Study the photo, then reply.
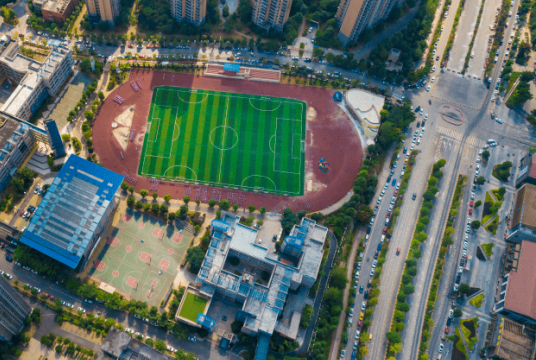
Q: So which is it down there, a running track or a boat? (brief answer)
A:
running track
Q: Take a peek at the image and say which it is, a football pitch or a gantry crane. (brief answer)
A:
football pitch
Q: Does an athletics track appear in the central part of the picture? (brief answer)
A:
Yes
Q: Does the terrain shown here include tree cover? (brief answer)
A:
Yes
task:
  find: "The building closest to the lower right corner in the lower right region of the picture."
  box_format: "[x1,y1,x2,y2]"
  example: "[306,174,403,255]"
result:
[485,316,536,360]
